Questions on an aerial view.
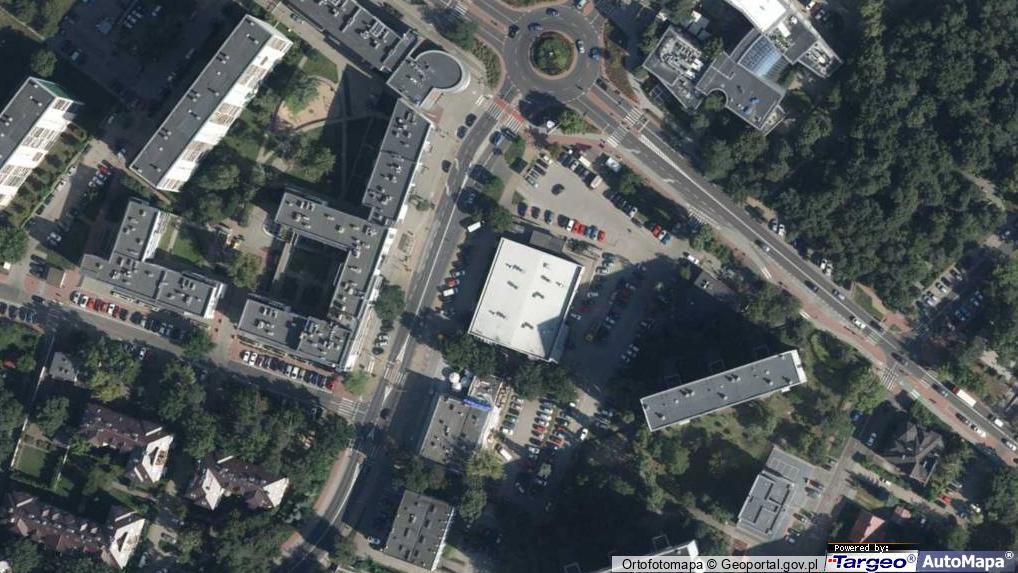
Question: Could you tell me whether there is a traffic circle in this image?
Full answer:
Yes, looking at the shot, I can spot a traffic circle.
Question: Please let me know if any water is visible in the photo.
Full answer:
No, the picture contains no water.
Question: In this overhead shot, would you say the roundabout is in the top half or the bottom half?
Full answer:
The roundabout is in the top half of the image.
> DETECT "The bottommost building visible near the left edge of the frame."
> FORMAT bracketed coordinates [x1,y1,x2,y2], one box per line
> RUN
[5,491,149,570]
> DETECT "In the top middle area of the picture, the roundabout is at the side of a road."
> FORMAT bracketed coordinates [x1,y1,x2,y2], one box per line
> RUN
[504,5,602,103]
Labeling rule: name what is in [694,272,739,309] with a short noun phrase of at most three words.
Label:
building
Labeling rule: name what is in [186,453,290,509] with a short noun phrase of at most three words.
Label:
house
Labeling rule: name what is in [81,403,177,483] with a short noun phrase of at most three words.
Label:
house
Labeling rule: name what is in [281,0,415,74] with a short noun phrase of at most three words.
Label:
building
